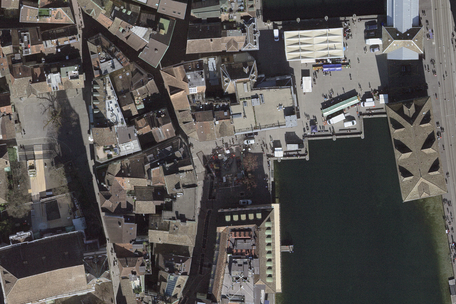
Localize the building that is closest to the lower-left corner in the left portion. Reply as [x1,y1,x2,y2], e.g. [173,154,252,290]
[0,228,88,304]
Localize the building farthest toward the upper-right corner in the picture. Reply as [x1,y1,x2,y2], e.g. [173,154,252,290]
[382,0,424,60]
